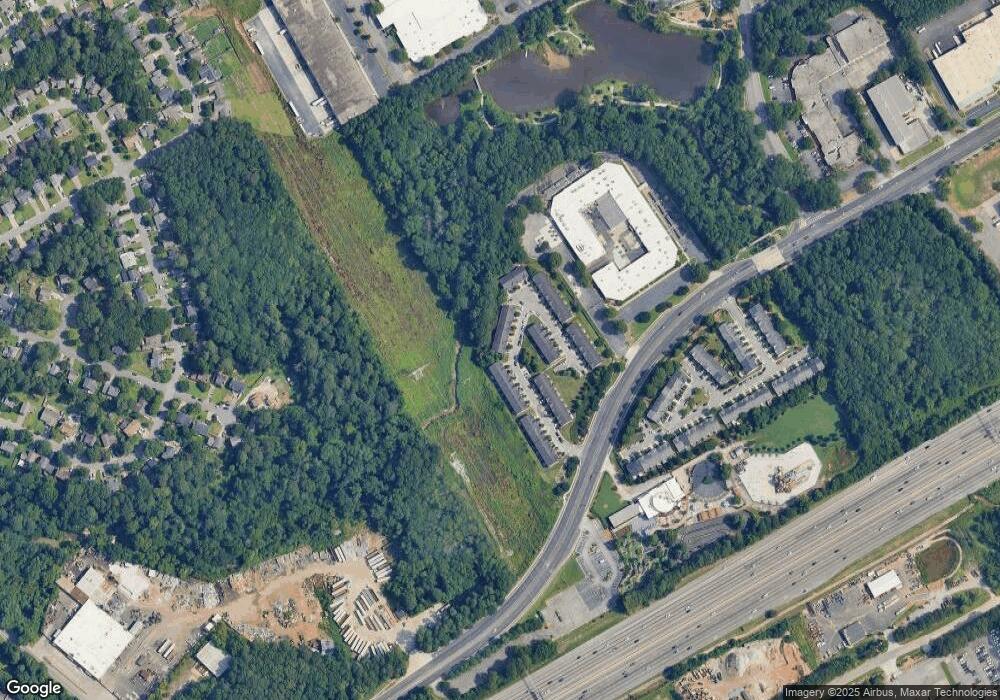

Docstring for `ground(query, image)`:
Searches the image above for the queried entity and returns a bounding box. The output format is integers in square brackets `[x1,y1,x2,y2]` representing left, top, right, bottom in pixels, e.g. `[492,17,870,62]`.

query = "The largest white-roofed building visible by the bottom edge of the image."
[52,599,133,679]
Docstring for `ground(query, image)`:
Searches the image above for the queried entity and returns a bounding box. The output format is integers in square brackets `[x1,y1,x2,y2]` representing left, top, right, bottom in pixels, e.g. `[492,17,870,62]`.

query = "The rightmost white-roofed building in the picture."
[933,3,1000,108]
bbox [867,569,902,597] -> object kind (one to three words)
barn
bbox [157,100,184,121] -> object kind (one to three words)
house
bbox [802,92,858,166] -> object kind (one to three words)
building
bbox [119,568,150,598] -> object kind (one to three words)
shed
